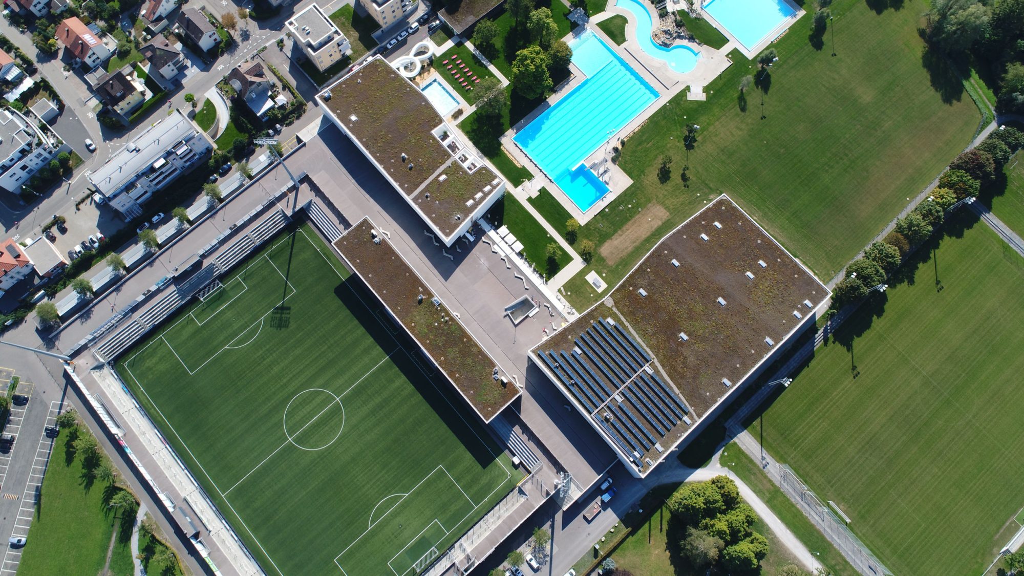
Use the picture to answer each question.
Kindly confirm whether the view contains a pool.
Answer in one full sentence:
Yes, looking at the shot, I can spot a pool.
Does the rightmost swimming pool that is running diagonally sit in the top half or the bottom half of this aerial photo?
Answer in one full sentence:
You can find the rightmost swimming pool that is running diagonally in the top half.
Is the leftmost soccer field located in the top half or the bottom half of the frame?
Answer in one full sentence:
You can find the leftmost soccer field in the bottom half.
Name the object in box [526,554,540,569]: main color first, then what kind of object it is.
white car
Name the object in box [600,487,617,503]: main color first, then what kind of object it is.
blue vehicle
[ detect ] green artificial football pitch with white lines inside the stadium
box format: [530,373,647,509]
[111,216,527,576]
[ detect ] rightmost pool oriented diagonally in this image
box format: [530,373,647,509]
[614,0,699,74]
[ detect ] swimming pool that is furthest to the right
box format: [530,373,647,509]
[701,0,798,51]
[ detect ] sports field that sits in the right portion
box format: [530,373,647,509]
[738,221,1024,576]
